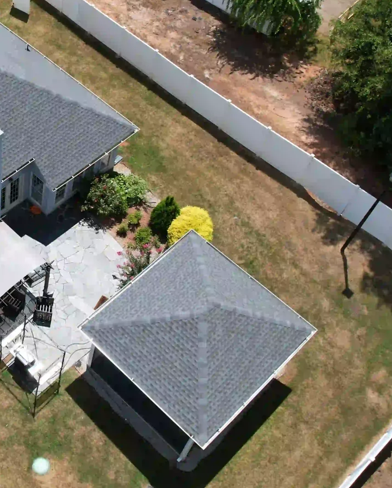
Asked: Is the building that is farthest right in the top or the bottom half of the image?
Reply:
bottom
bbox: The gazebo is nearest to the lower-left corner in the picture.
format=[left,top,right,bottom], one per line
[0,314,68,400]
